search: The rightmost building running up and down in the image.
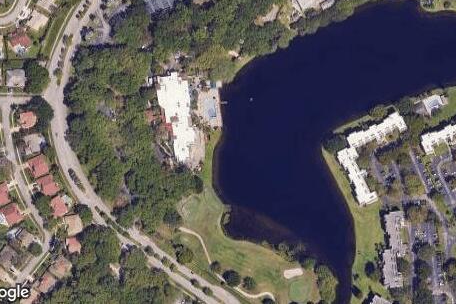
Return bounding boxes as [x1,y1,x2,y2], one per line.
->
[381,210,404,288]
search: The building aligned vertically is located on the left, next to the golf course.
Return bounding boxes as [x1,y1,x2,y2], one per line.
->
[152,71,194,164]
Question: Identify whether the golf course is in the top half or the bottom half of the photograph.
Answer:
bottom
